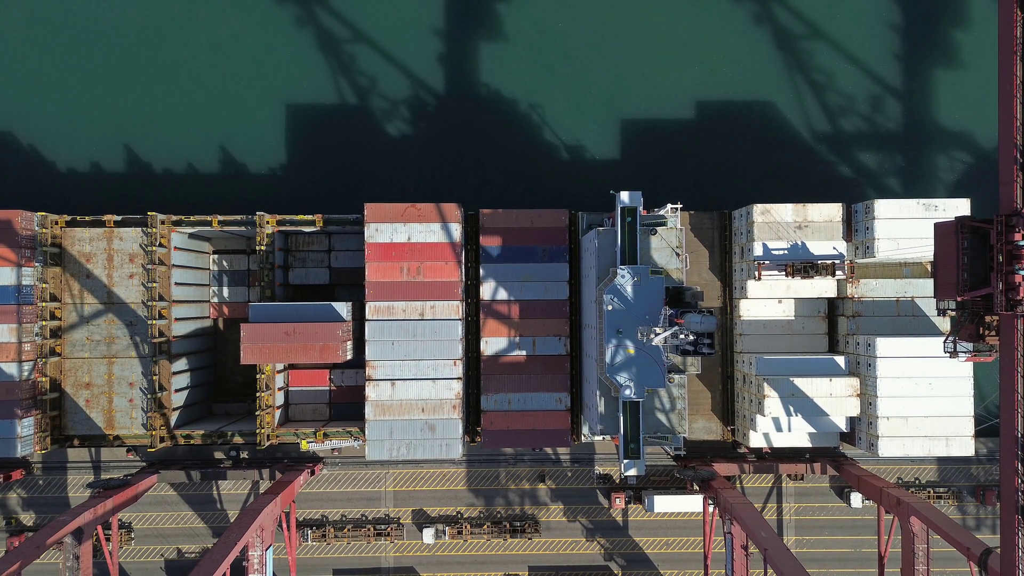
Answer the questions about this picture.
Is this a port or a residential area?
port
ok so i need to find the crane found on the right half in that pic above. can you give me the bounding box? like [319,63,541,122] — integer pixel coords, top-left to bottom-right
[666,0,1024,576]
